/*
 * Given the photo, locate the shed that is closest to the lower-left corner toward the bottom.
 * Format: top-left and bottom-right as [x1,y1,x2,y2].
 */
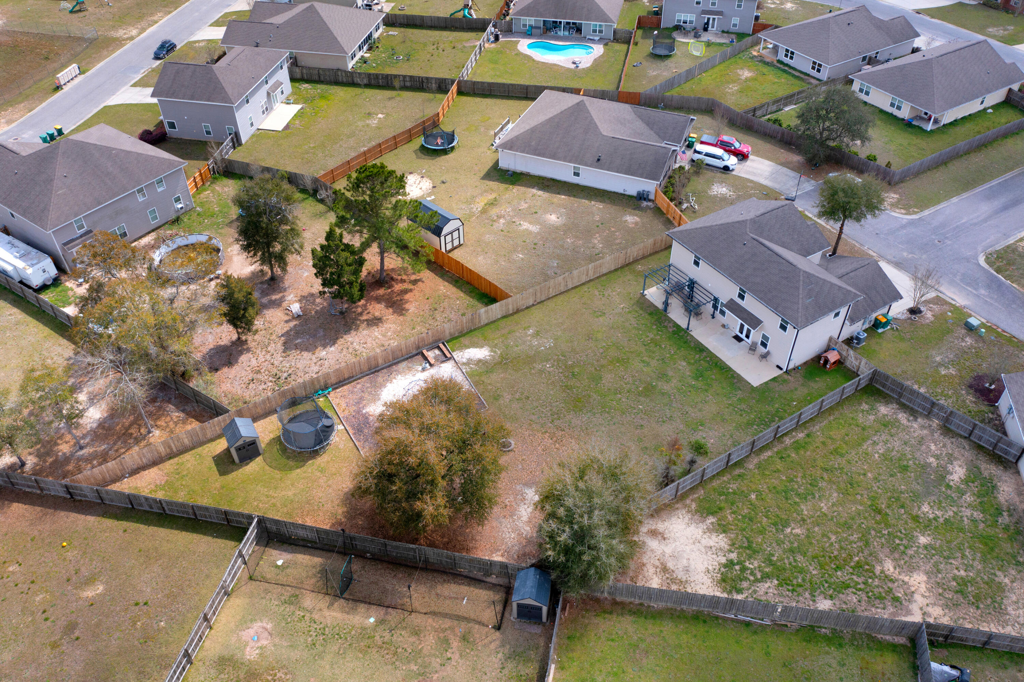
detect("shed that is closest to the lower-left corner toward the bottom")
[222,417,265,465]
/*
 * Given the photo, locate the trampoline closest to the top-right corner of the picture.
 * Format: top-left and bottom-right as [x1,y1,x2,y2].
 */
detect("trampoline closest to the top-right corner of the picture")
[649,33,677,60]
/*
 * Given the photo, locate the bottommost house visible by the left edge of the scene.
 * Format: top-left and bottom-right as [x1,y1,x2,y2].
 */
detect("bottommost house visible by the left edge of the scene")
[0,122,196,271]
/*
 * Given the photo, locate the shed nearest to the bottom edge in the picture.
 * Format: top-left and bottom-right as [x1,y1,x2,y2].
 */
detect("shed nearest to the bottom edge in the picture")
[511,569,552,624]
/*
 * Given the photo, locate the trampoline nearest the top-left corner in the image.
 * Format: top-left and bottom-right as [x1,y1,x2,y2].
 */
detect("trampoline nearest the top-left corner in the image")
[424,120,456,154]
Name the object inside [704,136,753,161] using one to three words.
vehicle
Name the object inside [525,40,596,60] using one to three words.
swimming pool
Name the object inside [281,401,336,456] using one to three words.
trampoline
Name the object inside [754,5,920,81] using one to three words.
house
